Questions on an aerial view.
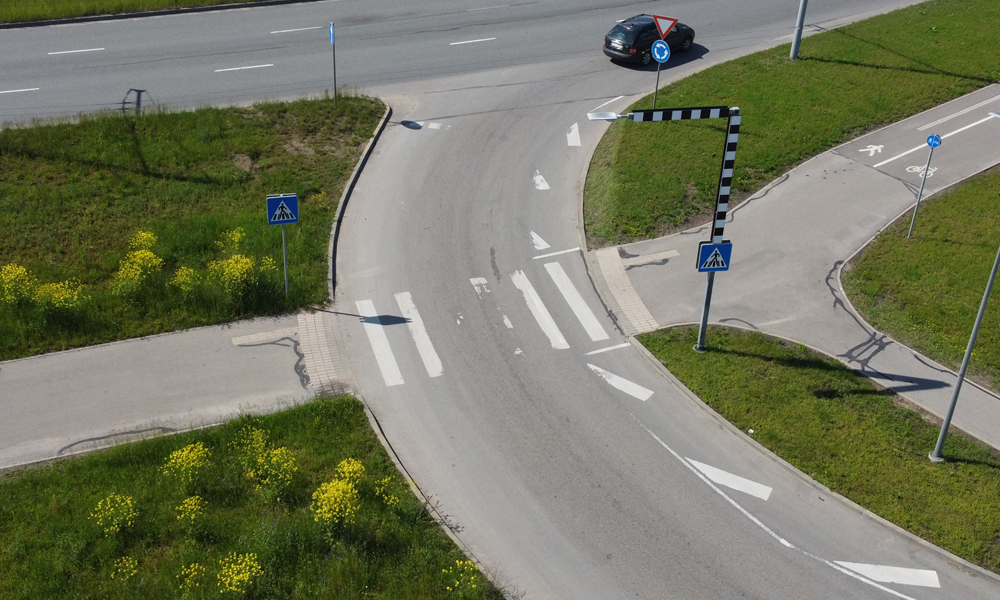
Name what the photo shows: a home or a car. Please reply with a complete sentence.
Of the two, only a car appears.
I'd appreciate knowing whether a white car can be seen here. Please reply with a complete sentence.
No, there isn't any white car down there.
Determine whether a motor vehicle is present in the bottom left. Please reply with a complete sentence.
No, there is no motor vehicle in the bottom left.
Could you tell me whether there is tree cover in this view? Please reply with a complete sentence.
No, the scene doesn't show any tree cover.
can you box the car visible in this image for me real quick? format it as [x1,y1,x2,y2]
[602,12,696,64]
